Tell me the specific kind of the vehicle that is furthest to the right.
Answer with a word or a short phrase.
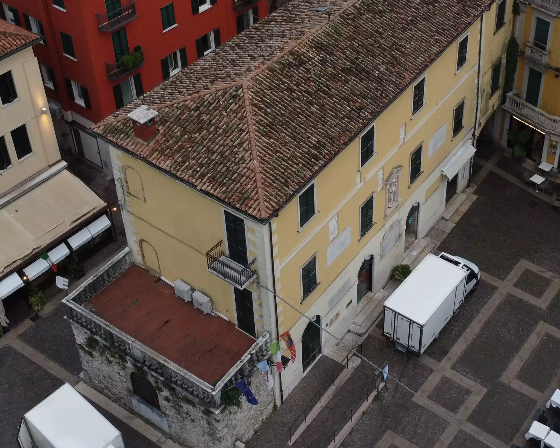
truck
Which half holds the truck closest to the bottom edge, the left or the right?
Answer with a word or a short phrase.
left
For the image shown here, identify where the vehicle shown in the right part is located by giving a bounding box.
[382,249,483,357]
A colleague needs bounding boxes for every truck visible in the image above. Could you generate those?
[382,249,483,357]
[13,383,125,448]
